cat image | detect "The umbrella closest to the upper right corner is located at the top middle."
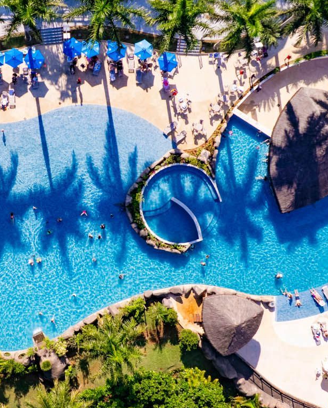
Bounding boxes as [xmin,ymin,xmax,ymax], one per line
[155,51,176,71]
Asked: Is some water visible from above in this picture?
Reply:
Yes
